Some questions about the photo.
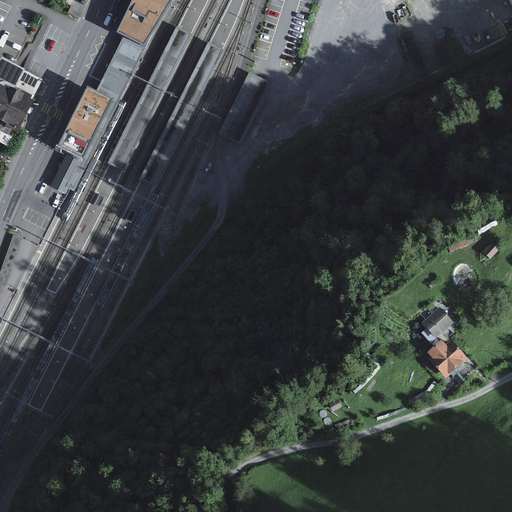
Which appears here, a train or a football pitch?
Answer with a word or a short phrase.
train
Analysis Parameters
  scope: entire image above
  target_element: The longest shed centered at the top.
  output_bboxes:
[220,72,268,142]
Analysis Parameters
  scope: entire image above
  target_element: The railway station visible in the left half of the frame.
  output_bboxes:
[0,0,244,410]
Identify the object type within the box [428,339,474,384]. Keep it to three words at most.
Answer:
house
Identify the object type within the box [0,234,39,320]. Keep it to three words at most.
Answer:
building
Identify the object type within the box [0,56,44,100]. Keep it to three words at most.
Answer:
building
